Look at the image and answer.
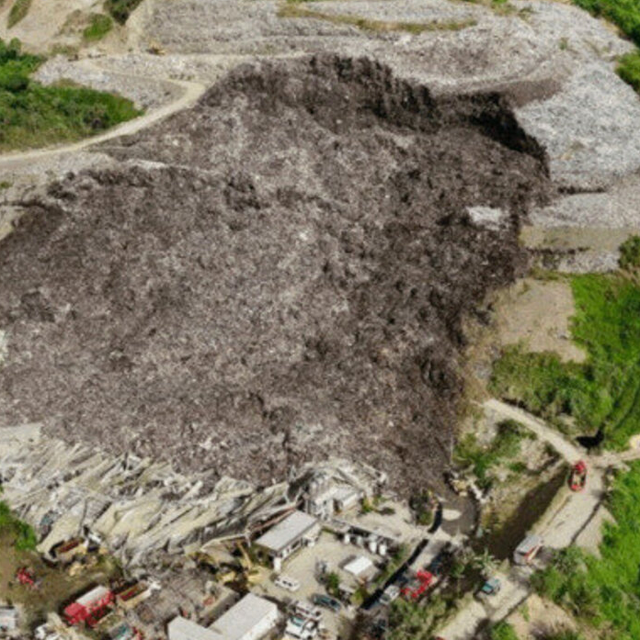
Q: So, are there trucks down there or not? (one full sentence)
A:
Yes, there's a truck here.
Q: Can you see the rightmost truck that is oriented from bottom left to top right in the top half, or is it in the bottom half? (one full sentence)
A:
Seen from above, the rightmost truck that is oriented from bottom left to top right lies in the bottom half of the view.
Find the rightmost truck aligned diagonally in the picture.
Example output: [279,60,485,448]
[510,521,554,568]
